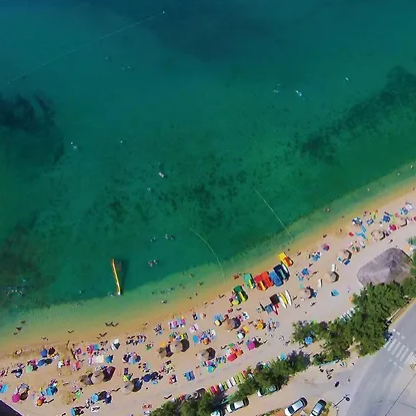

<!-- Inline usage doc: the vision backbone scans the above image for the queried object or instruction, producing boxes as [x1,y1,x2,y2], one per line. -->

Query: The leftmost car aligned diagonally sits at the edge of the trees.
[226,396,250,415]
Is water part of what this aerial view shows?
Yes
